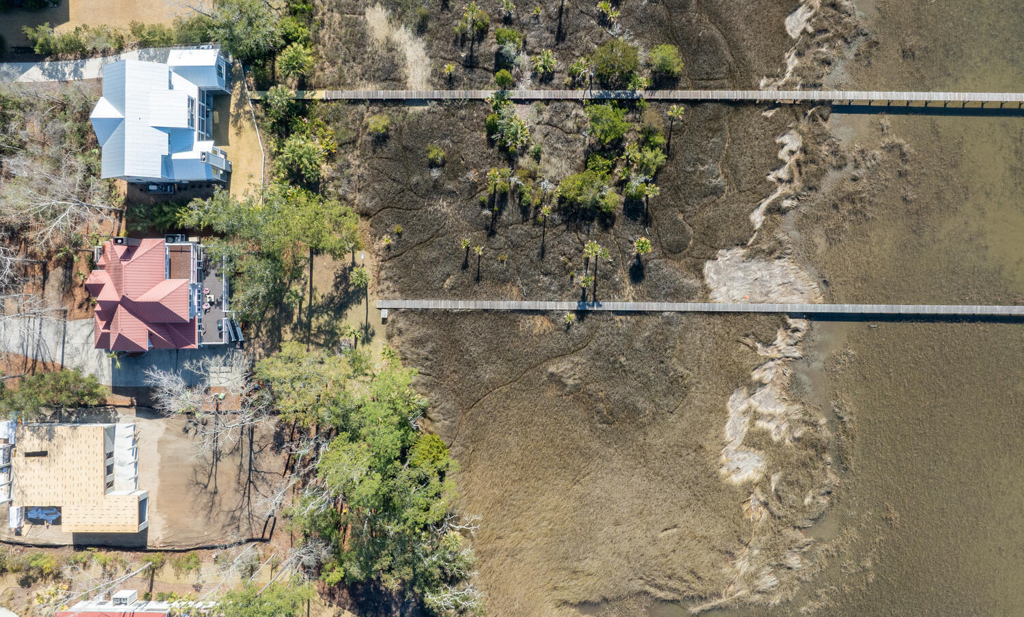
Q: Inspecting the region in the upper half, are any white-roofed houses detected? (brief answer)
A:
Yes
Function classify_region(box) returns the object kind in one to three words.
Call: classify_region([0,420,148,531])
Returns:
house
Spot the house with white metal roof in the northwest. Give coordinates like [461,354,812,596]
[89,49,243,184]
